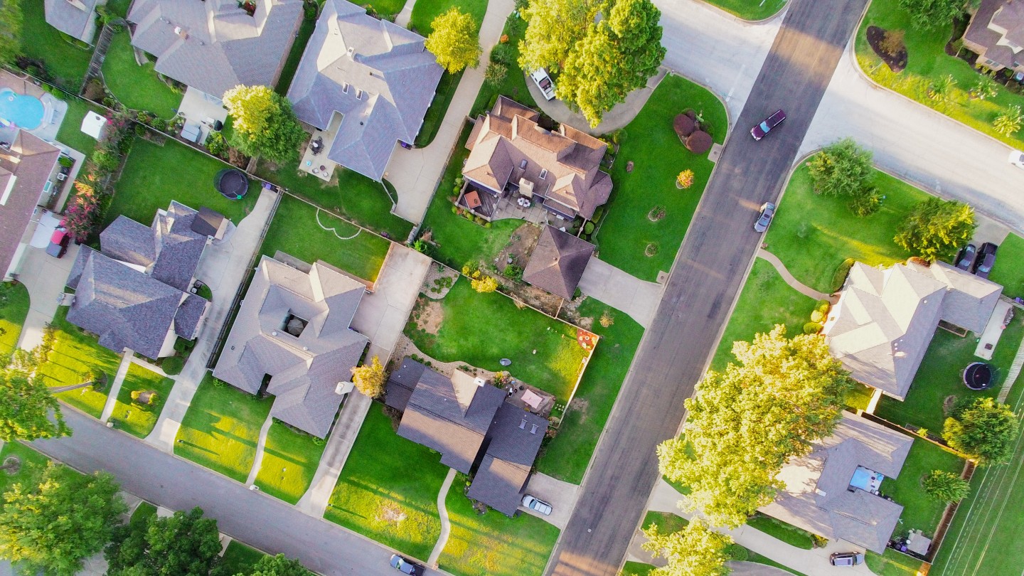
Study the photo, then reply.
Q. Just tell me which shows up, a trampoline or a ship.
trampoline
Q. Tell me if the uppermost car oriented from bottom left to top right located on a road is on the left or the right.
right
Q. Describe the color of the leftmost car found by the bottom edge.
blue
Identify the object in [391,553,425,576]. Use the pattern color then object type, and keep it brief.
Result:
blue car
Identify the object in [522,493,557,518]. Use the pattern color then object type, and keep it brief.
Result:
white vehicle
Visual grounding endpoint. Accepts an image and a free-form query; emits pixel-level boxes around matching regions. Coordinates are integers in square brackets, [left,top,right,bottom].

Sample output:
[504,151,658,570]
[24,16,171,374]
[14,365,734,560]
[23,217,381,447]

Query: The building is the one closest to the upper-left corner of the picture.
[44,0,118,44]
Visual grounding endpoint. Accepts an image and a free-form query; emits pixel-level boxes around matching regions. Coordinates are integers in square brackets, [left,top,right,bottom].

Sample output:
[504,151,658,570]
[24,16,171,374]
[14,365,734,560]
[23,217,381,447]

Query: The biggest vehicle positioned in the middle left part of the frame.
[42,226,72,261]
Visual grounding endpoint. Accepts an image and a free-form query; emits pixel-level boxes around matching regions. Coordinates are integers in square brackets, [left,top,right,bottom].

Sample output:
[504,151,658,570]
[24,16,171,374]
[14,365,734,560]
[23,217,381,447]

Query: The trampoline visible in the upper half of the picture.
[214,167,248,198]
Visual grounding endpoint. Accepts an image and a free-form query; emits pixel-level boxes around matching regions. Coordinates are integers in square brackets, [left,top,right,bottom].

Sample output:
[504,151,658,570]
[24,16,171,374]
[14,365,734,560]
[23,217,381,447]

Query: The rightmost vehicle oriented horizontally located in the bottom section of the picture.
[828,550,862,567]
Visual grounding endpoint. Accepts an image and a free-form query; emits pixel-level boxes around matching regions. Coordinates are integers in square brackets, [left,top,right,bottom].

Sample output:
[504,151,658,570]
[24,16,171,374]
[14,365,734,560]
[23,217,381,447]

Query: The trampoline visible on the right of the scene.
[959,362,1000,391]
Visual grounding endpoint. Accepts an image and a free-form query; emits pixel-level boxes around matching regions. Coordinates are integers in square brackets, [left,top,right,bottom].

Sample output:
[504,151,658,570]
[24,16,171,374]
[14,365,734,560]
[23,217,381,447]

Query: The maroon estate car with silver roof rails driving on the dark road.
[750,109,786,140]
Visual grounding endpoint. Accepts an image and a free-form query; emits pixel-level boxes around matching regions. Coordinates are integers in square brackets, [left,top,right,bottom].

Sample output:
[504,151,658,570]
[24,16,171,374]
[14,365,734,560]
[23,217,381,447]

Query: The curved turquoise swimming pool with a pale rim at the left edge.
[0,86,52,131]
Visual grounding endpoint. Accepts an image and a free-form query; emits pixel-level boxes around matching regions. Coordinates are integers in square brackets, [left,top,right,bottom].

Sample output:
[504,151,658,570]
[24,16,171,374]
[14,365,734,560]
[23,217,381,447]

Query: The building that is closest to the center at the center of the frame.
[522,224,596,301]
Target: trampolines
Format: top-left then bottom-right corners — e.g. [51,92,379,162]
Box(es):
[214,167,248,198]
[959,362,1000,391]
